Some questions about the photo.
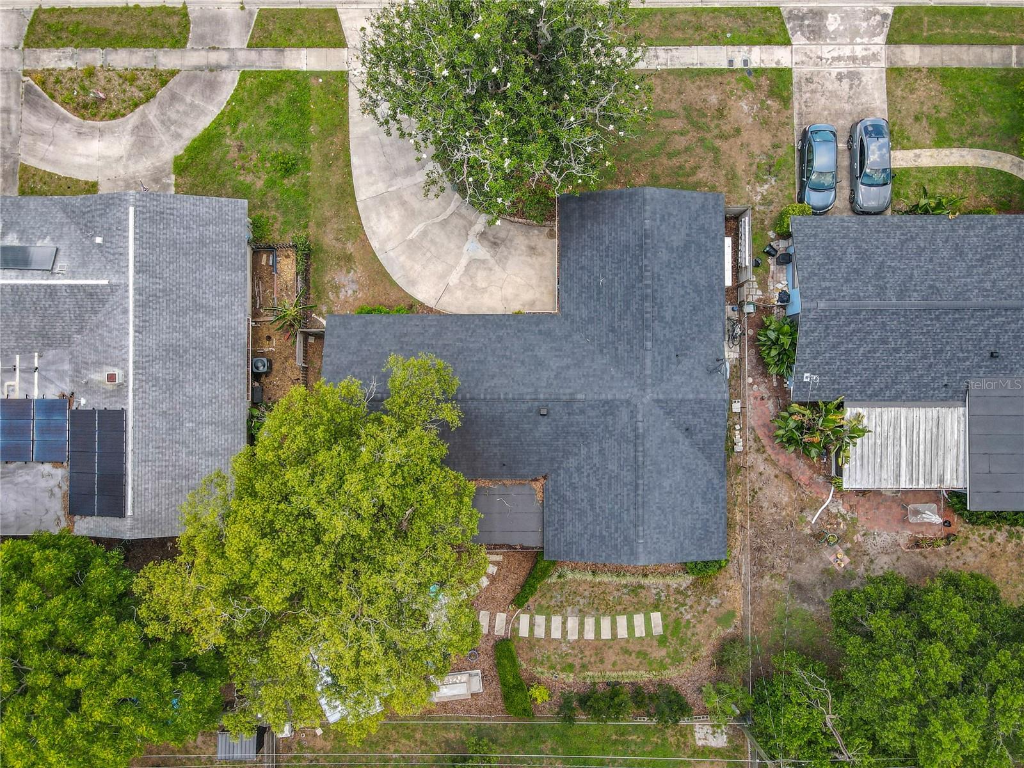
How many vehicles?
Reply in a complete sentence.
There are 2 vehicles in the image.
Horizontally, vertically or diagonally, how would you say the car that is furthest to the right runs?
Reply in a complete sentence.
The car that is furthest to the right is oriented vertically.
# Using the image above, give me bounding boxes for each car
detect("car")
[795,125,841,215]
[845,118,896,216]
